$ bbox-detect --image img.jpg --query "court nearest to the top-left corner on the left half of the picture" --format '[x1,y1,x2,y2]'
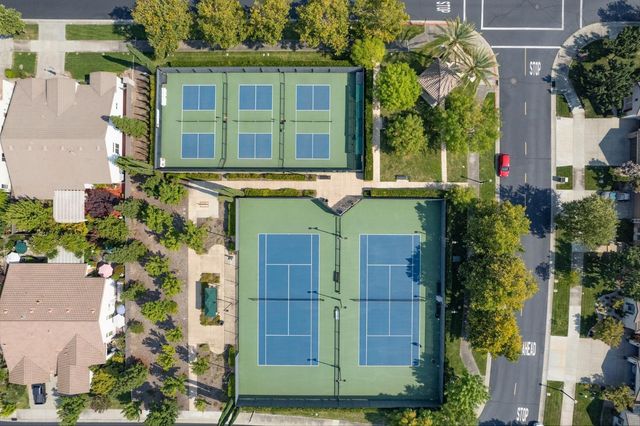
[161,72,228,170]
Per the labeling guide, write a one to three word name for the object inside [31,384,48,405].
car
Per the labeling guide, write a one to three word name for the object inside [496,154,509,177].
vehicle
